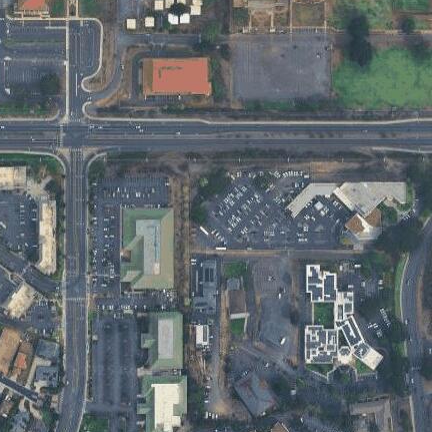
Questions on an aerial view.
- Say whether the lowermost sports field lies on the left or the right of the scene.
right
